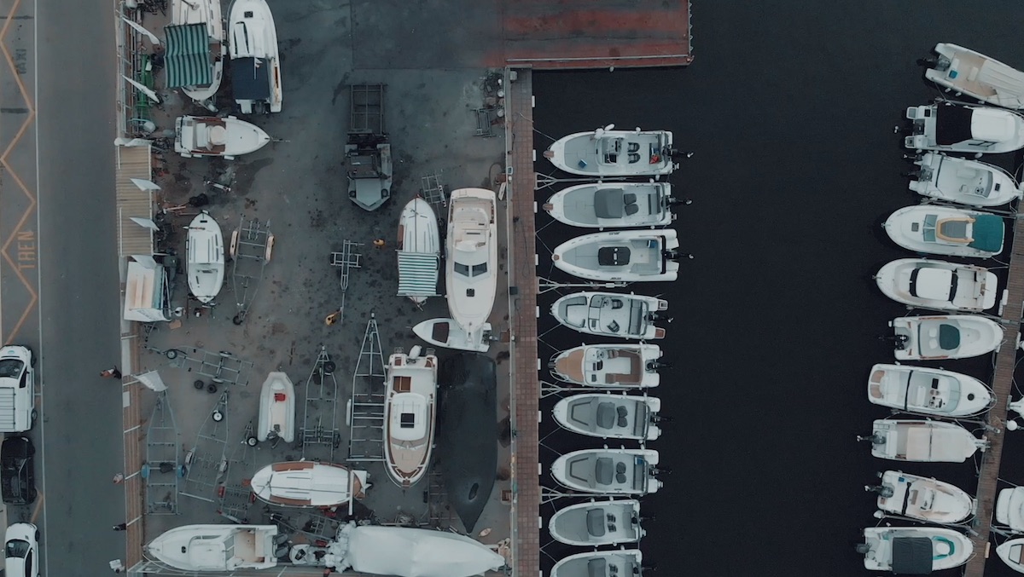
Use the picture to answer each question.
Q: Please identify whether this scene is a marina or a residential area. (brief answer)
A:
marina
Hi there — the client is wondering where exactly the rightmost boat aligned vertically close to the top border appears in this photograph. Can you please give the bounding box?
[227,0,285,116]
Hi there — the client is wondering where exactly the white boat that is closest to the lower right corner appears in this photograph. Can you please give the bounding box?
[994,535,1024,571]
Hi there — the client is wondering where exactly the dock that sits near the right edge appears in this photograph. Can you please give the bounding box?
[959,143,1024,577]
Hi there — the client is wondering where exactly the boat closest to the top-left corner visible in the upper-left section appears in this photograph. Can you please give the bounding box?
[164,0,229,112]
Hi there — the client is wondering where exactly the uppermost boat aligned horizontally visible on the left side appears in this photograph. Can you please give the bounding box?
[175,115,289,161]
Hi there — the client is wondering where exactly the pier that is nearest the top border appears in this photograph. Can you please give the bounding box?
[502,0,695,74]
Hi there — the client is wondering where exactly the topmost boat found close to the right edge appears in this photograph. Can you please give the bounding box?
[919,43,1024,110]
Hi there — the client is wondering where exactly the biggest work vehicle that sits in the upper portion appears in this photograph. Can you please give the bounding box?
[345,83,394,212]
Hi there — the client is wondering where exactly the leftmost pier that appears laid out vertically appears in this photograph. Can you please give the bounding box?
[513,70,548,577]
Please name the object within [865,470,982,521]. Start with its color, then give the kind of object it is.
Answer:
white boat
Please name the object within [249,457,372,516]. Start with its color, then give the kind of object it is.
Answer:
white boat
